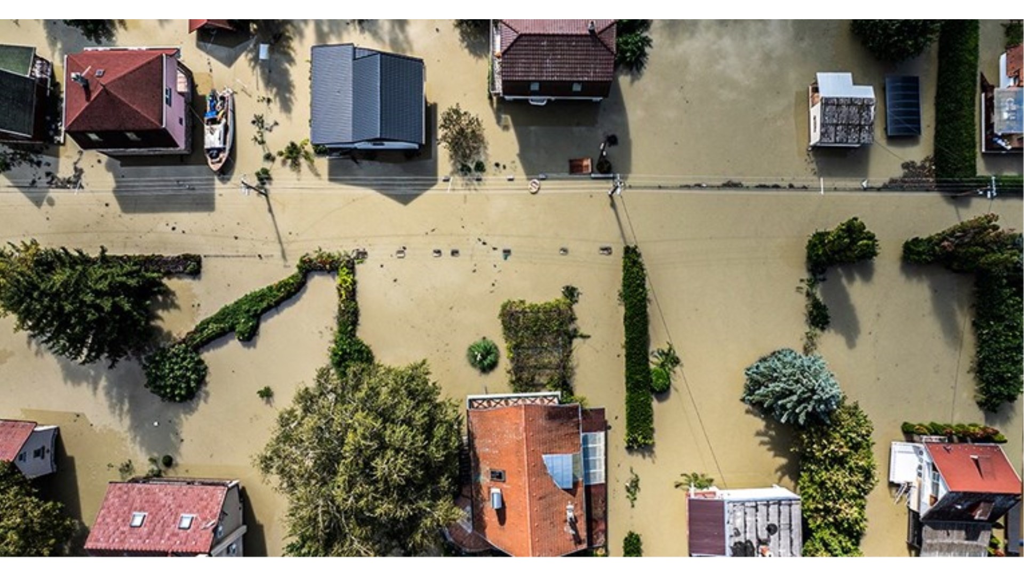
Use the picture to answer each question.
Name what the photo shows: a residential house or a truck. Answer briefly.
residential house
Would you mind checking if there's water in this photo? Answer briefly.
Yes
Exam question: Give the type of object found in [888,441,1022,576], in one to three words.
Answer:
house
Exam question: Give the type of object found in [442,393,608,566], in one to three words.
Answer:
house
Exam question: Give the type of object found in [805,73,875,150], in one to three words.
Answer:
shed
